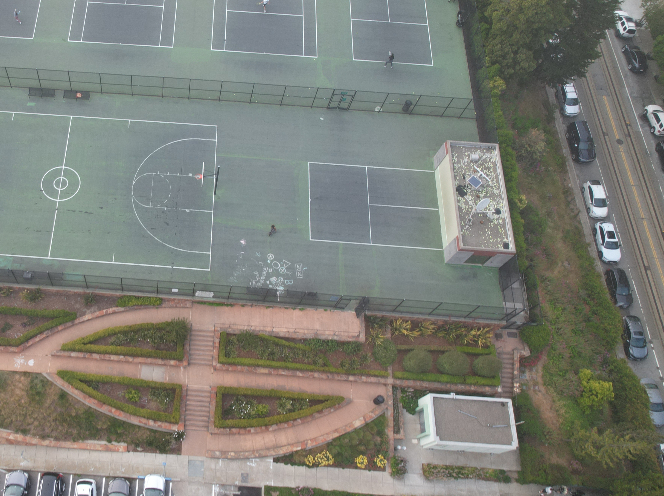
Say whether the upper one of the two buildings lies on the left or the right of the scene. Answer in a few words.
right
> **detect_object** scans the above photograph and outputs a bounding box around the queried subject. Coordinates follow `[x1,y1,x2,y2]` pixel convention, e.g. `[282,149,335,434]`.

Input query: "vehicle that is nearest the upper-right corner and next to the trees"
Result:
[610,9,642,41]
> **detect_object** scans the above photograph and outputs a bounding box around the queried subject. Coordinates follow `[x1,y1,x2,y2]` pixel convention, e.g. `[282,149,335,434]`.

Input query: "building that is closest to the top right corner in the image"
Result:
[436,141,515,266]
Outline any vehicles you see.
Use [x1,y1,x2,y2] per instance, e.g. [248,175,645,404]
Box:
[140,473,168,496]
[107,478,130,496]
[74,478,98,496]
[592,221,624,266]
[617,315,652,362]
[557,80,584,117]
[567,119,599,164]
[37,472,64,496]
[602,268,636,309]
[619,43,647,76]
[1,470,29,496]
[610,9,642,41]
[643,103,664,138]
[582,179,611,220]
[641,379,664,427]
[654,138,664,174]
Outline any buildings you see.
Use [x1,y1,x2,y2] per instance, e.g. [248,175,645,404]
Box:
[410,394,523,453]
[436,141,515,266]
